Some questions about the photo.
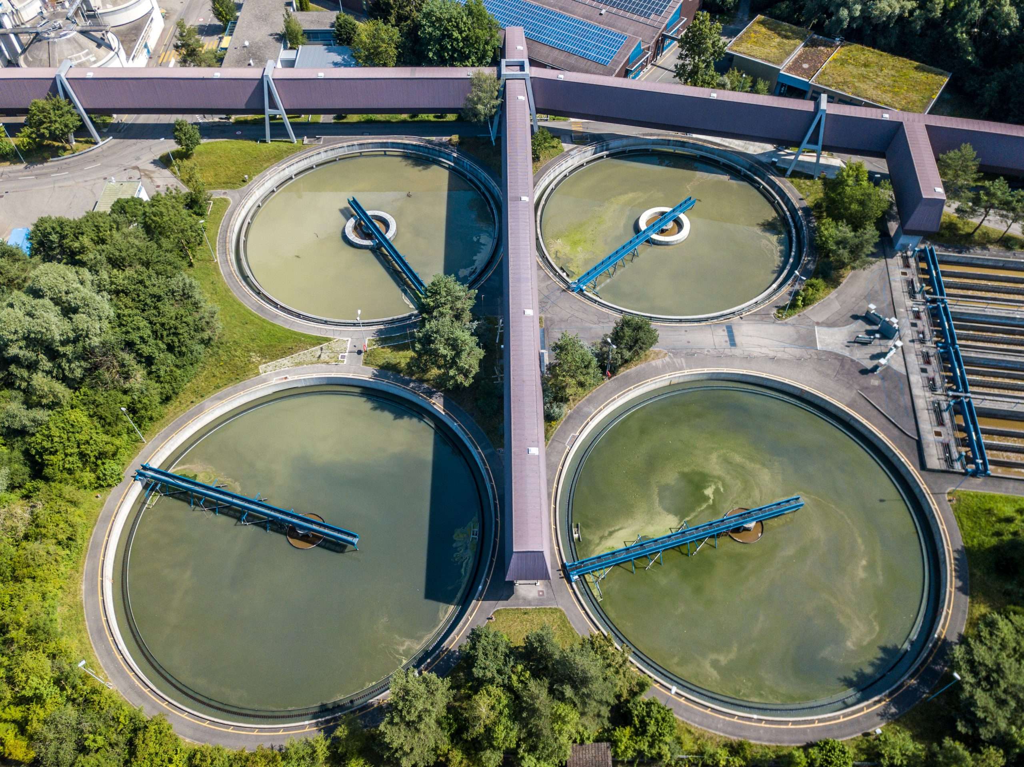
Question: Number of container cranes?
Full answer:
There are no container cranes in the image.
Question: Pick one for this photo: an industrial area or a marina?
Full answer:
It's an industrial area.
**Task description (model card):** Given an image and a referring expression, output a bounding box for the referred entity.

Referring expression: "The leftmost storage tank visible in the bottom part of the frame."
[98,369,500,735]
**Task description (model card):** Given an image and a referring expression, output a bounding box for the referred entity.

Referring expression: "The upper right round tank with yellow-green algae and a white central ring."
[532,128,808,325]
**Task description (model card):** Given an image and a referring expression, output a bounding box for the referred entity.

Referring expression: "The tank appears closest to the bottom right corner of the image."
[552,367,955,727]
